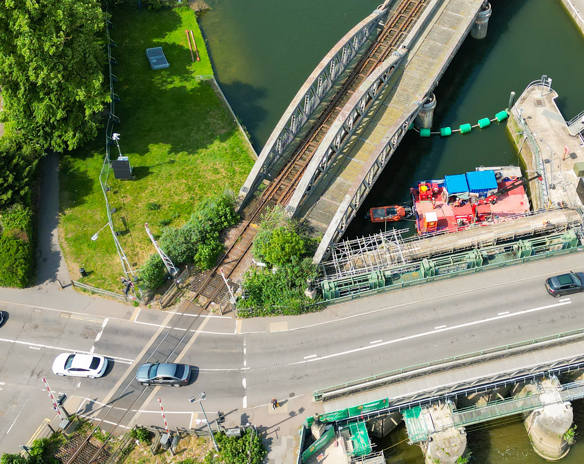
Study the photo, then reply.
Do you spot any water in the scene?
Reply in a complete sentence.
Yes, the picture does contain water.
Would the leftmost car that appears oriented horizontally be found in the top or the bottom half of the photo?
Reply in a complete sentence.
Seen from above, the leftmost car that appears oriented horizontally lies in the bottom half of the view.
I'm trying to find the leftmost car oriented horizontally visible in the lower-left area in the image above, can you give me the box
[51,350,111,379]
